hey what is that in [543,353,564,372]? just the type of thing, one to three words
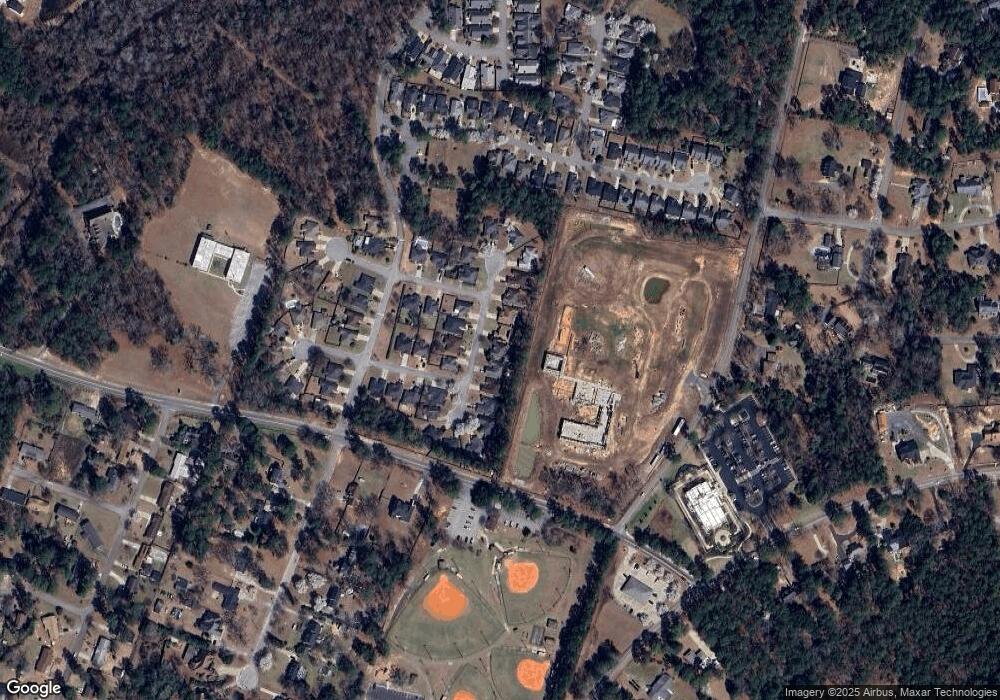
building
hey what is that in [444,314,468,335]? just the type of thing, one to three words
house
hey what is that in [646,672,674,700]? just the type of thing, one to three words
house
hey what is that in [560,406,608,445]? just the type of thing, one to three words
building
